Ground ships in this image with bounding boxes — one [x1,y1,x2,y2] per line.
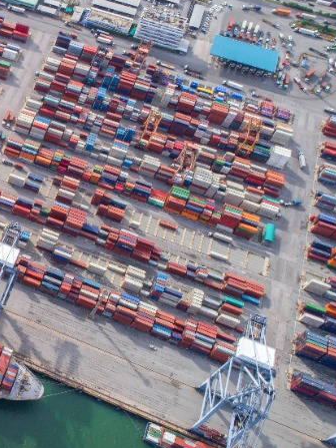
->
[0,364,44,401]
[141,421,171,448]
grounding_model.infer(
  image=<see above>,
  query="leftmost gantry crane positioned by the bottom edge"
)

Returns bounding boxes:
[185,313,282,448]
